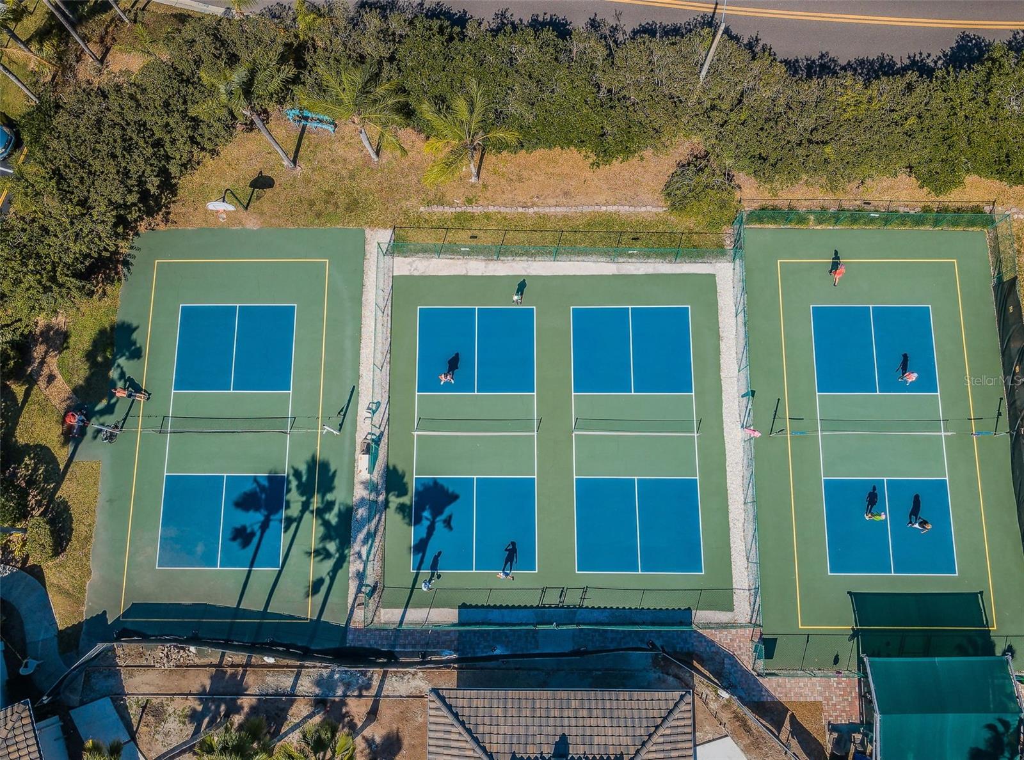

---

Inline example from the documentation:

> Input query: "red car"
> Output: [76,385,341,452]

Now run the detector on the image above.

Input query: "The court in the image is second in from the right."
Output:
[553,274,734,611]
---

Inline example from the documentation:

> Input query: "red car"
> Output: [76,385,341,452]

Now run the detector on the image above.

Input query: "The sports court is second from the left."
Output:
[380,275,556,608]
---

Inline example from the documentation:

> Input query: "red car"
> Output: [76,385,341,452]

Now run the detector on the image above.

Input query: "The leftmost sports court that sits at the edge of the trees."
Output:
[67,228,364,646]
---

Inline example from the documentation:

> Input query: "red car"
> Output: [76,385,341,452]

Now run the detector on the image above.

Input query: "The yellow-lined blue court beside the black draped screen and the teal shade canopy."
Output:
[744,228,1024,670]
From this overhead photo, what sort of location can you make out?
sports ground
